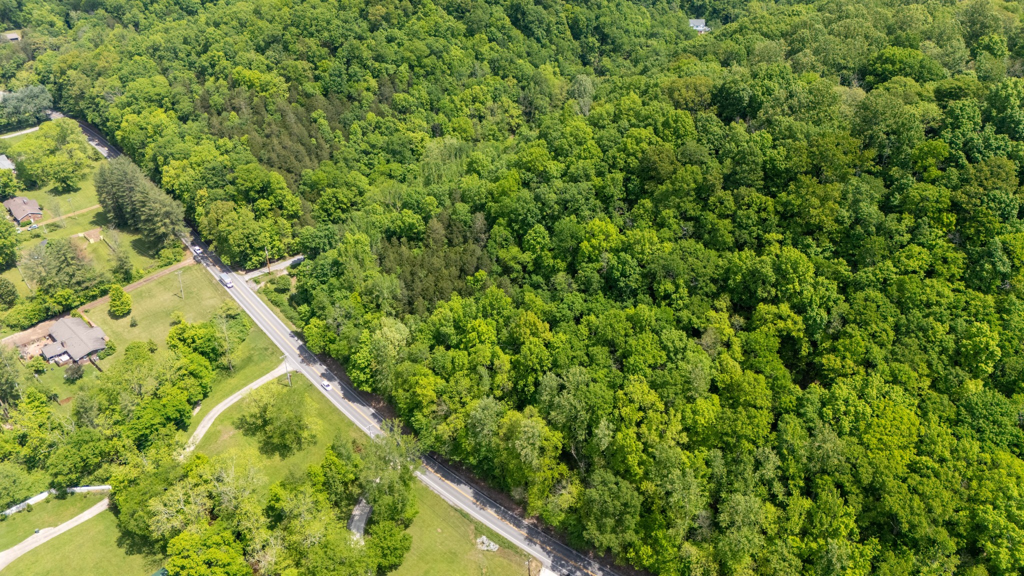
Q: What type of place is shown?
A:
forest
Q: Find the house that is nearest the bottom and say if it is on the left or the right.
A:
left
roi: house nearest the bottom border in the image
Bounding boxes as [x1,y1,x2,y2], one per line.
[41,321,109,367]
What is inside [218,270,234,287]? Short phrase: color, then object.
white vehicle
